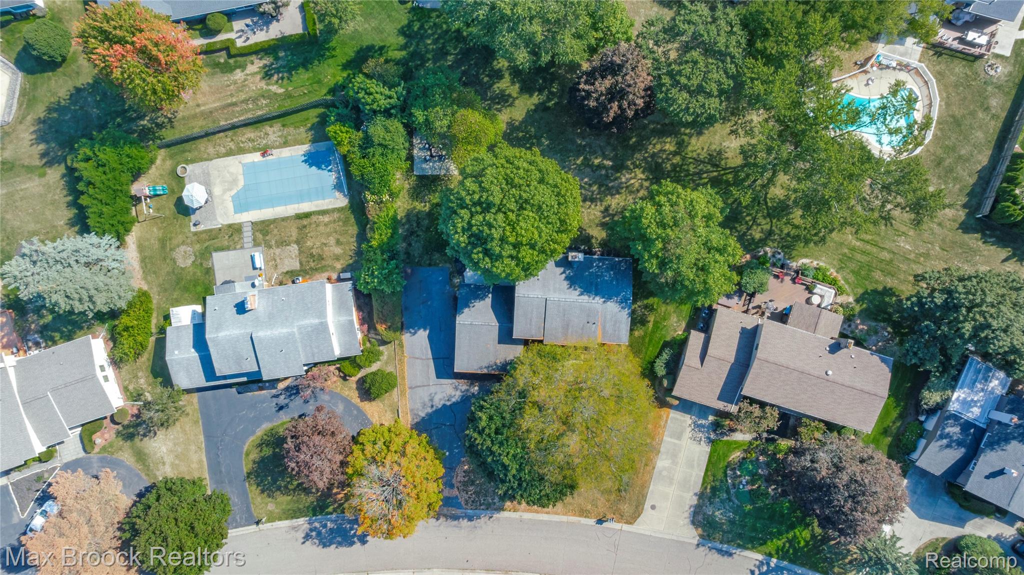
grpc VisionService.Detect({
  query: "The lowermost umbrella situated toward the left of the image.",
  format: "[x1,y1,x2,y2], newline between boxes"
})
[183,182,208,207]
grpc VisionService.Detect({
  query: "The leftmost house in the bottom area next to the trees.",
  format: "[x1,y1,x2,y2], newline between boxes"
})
[0,325,141,471]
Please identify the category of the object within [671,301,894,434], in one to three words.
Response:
house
